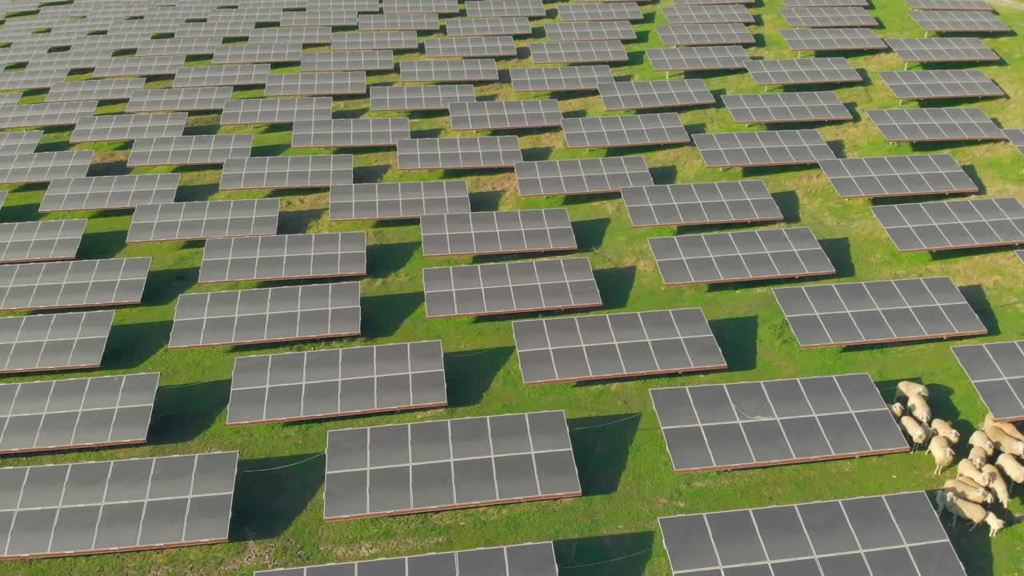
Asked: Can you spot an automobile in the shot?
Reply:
No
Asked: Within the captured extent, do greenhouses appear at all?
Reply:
No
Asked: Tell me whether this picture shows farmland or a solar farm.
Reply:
solar farm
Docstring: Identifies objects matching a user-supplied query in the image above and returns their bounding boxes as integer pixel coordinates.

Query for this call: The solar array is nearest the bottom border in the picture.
[255,542,557,576]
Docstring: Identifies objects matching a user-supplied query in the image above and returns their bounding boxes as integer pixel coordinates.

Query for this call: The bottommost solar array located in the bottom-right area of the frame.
[659,491,967,576]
